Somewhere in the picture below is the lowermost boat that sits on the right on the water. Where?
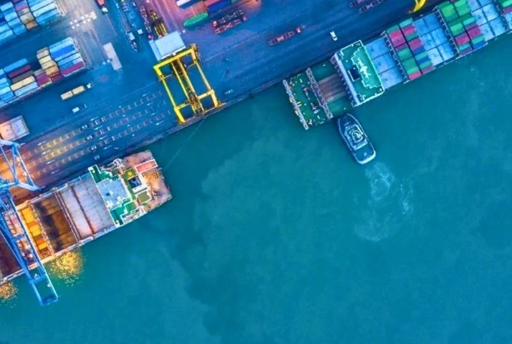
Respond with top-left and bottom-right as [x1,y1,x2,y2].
[337,114,375,168]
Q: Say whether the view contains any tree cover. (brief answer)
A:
No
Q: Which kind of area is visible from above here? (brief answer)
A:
port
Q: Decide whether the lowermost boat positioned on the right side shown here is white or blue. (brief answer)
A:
blue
